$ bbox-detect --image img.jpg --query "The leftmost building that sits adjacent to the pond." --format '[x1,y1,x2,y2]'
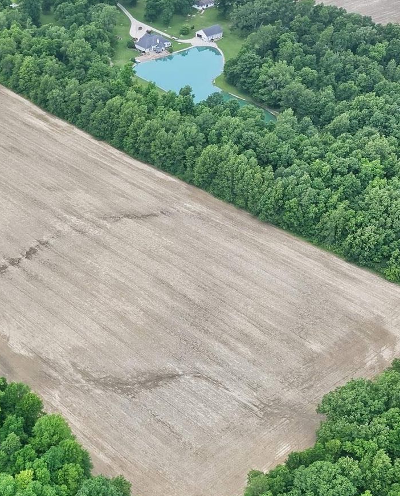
[132,32,171,54]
